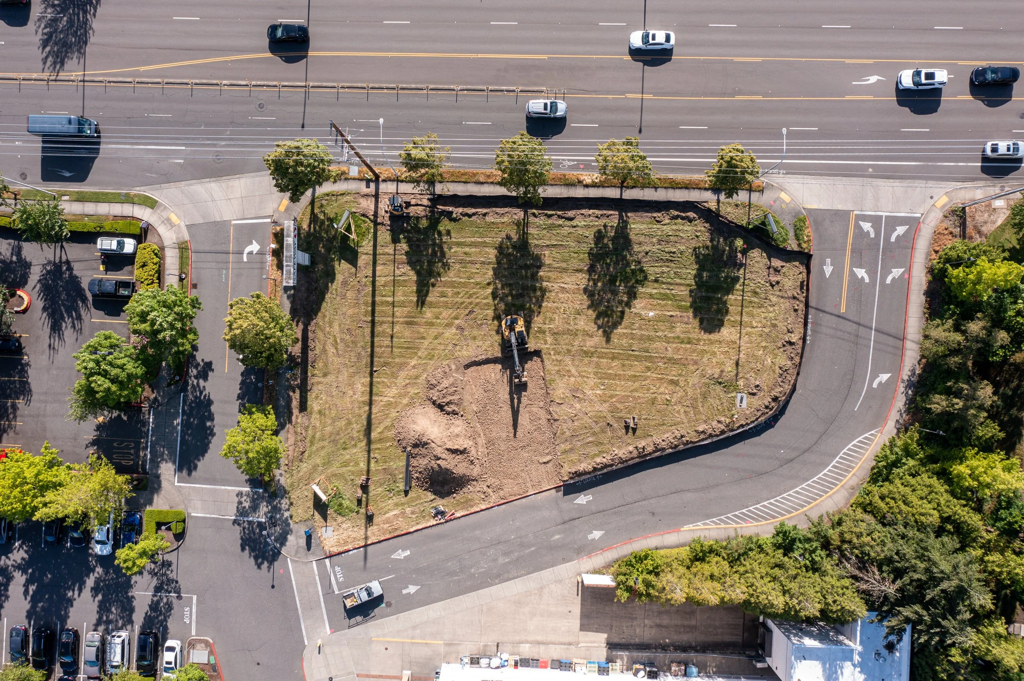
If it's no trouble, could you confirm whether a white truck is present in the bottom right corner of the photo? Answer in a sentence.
No, I can find no white truck in the bottom right corner of the photo.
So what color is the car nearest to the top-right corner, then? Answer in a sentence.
In this view, the car nearest to the top-right corner is black.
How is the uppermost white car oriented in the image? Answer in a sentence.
What the image shows is the uppermost white car lying horizontally.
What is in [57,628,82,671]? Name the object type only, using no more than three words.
car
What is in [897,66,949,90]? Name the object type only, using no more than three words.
car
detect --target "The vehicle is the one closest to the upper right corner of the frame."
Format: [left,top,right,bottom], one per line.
[972,64,1019,87]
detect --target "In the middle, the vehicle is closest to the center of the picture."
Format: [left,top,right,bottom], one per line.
[501,313,527,380]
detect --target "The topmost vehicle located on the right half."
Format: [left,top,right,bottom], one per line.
[629,28,675,50]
